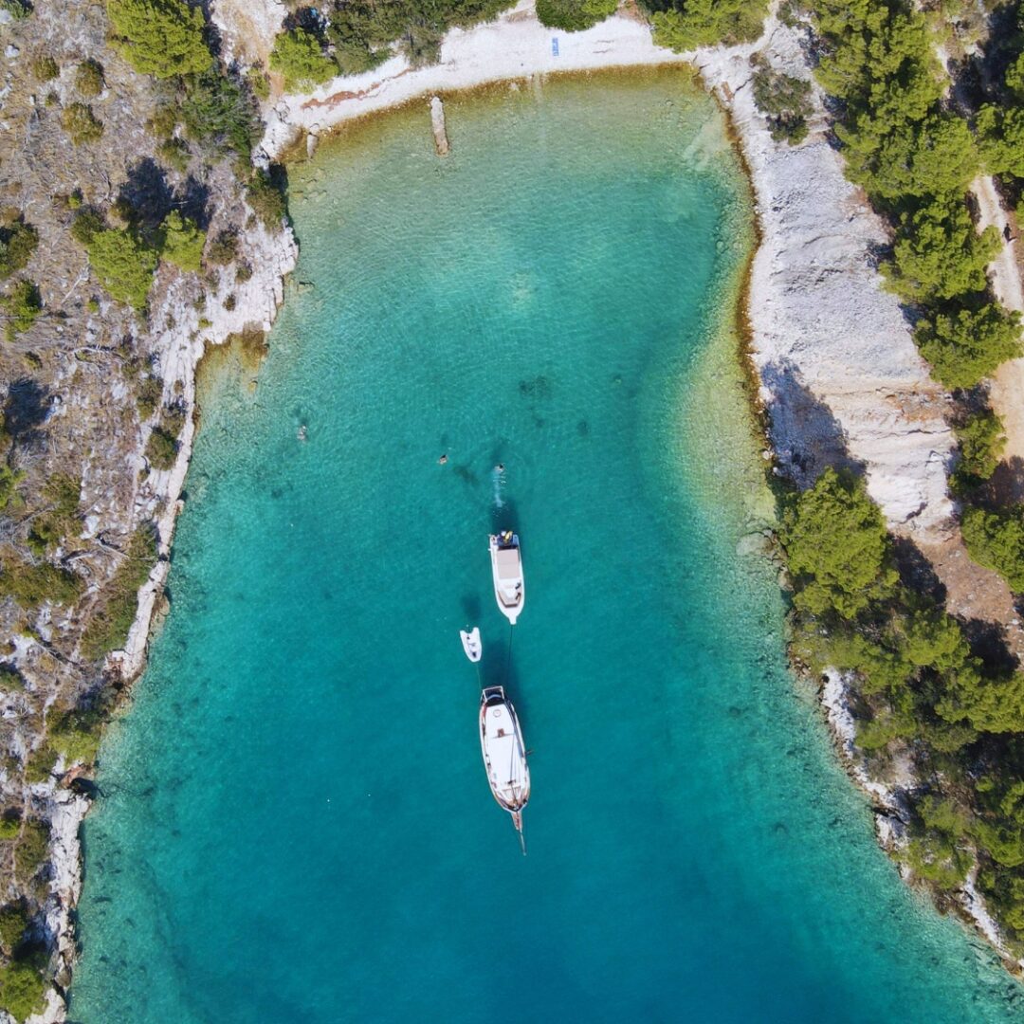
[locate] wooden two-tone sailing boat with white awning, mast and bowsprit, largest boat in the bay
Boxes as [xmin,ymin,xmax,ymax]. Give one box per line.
[479,685,533,860]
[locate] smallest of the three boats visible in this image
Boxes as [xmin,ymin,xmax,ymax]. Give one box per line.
[460,628,481,662]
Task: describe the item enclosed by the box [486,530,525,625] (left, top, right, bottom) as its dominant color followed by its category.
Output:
white boat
